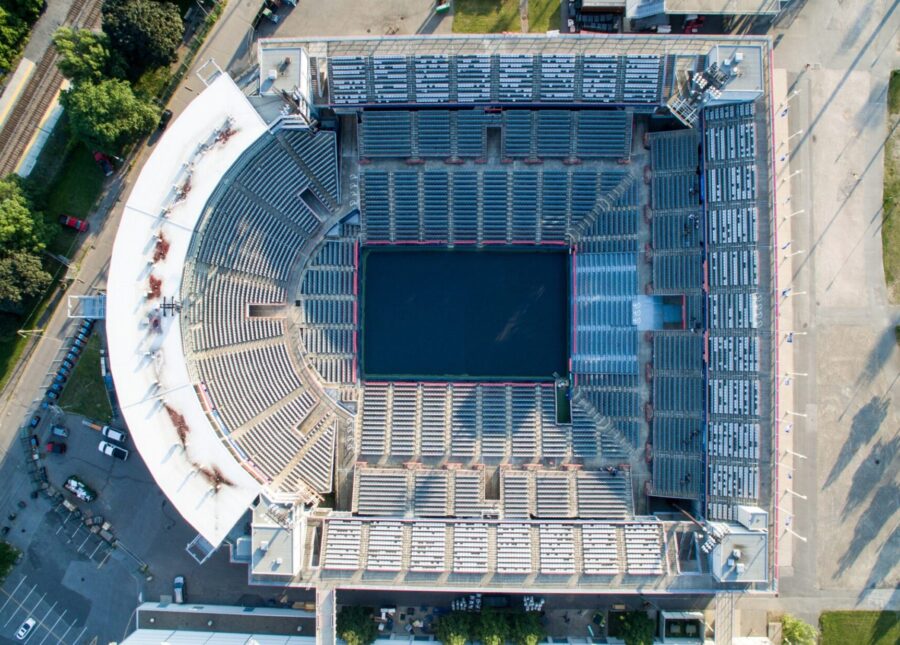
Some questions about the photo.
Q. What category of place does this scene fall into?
sports ground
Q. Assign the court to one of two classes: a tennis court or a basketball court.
tennis court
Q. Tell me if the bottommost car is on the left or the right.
left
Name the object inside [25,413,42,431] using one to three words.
car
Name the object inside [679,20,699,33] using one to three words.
vehicle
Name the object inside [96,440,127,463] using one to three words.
truck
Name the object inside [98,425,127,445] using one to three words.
vehicle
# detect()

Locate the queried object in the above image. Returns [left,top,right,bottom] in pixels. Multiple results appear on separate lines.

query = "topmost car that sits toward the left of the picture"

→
[156,106,175,131]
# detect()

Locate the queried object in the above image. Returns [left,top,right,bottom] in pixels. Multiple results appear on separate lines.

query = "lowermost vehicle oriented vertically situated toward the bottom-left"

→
[171,577,184,605]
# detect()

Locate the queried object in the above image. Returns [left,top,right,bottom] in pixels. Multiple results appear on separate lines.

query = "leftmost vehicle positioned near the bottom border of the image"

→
[11,619,36,643]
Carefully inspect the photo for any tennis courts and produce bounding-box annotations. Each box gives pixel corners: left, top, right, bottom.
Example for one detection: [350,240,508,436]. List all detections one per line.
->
[359,246,572,380]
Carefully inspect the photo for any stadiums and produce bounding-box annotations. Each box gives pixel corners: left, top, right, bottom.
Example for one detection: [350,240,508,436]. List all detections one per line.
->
[64,40,781,591]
